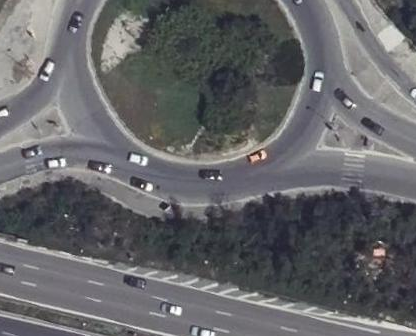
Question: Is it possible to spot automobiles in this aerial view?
Yes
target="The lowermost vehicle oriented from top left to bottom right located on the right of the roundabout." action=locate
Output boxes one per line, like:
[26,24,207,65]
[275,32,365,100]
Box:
[361,116,384,136]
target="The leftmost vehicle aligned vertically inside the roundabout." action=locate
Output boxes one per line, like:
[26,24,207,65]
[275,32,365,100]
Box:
[70,12,82,34]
